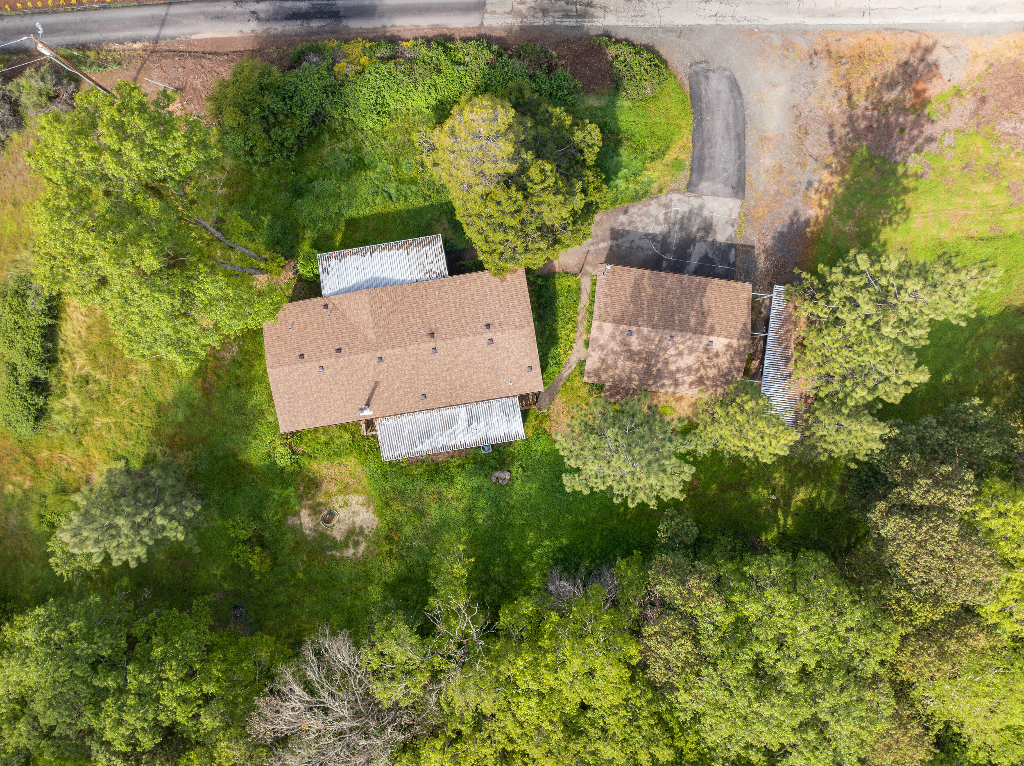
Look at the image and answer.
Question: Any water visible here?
No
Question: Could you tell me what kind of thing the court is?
basketball court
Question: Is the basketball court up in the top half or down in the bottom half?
top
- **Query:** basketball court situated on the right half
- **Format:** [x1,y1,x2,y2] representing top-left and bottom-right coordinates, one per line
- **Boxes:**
[541,191,743,279]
